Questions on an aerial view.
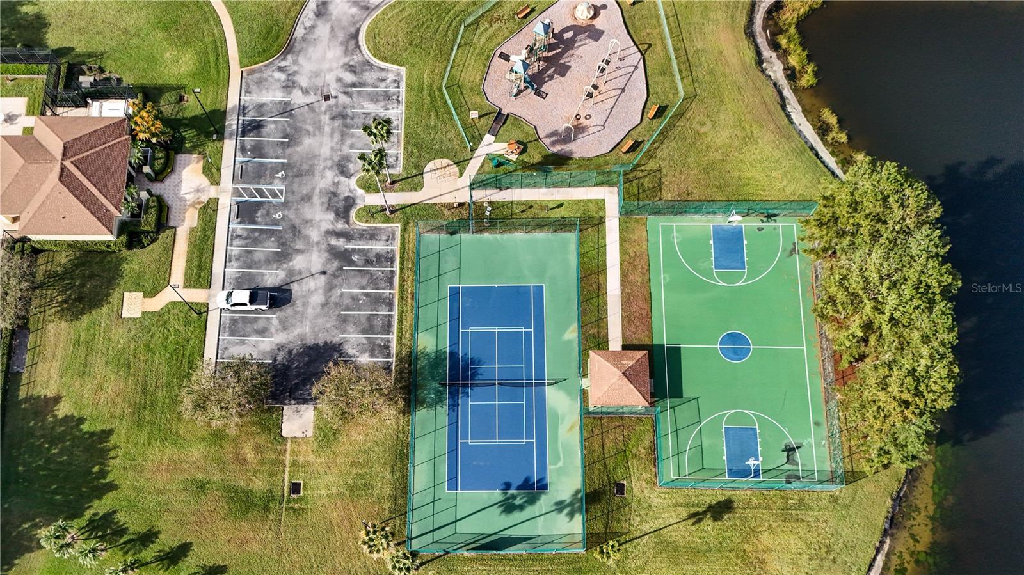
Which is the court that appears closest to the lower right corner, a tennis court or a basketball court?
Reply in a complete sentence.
The court that appears closest to the lower right corner appears to be a basketball court.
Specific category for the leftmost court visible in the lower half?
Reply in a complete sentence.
It looks like the leftmost court visible in the lower half is a tennis court.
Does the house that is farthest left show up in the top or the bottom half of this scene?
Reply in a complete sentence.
The top half of the photo is where the house that is farthest left is.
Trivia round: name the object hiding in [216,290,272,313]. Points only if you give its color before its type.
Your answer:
white truck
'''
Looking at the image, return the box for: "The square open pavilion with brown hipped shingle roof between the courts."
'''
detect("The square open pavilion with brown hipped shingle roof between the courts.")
[588,350,650,413]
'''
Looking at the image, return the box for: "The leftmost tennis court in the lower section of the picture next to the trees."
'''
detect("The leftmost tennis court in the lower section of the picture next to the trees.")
[409,232,585,552]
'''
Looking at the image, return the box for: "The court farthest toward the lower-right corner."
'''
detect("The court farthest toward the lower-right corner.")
[647,216,831,489]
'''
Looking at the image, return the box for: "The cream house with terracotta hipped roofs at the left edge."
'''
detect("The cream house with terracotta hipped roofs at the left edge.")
[0,116,134,241]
